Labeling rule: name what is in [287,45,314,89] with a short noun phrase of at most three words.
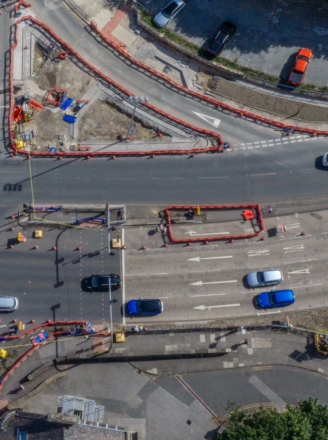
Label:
truck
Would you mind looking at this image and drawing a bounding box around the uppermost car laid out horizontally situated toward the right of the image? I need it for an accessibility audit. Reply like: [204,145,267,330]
[246,270,284,288]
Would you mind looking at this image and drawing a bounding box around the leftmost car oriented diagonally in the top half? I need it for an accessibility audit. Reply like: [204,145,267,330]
[152,0,188,28]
